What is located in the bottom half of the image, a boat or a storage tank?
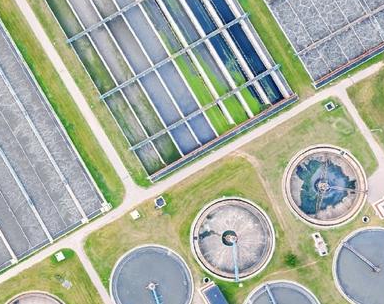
storage tank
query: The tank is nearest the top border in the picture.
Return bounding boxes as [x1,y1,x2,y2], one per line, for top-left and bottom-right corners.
[281,144,370,230]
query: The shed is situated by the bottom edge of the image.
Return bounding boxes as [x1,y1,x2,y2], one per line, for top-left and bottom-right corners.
[191,279,227,304]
